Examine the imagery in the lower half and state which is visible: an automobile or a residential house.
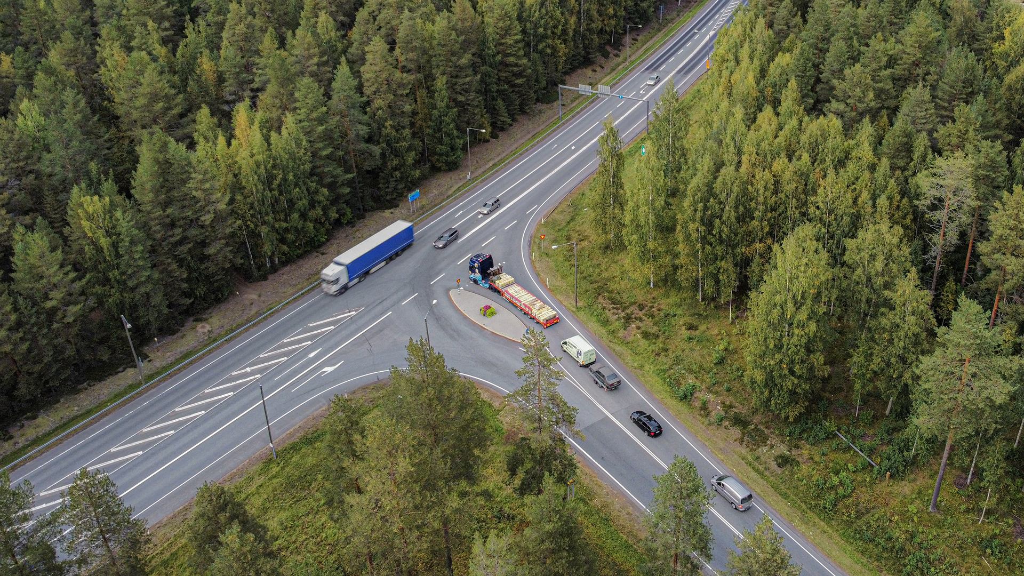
automobile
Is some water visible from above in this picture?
No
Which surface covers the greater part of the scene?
trees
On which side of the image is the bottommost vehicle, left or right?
right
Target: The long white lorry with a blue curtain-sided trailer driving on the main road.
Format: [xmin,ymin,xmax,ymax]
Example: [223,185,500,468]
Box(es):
[323,220,415,296]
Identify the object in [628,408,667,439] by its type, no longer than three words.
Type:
car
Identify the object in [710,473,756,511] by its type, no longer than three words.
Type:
vehicle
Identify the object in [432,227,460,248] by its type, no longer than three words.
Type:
car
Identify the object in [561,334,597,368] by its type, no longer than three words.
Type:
van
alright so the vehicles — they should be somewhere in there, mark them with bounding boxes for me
[710,473,756,511]
[646,73,661,84]
[477,196,502,215]
[323,220,415,296]
[561,334,597,368]
[468,251,561,328]
[432,227,460,248]
[628,408,667,439]
[589,360,622,389]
